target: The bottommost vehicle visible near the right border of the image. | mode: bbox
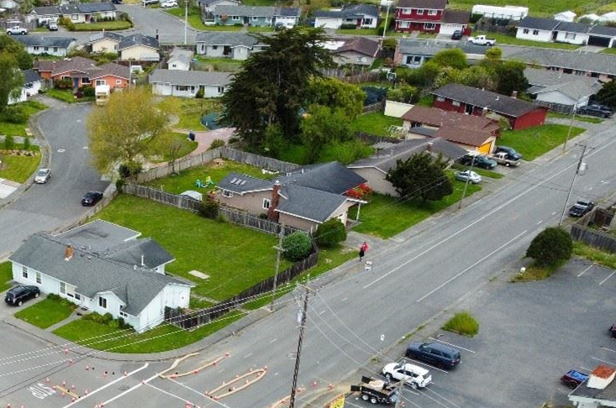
[557,365,590,386]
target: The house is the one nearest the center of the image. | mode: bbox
[215,163,364,239]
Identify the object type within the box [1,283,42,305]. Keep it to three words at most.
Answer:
car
